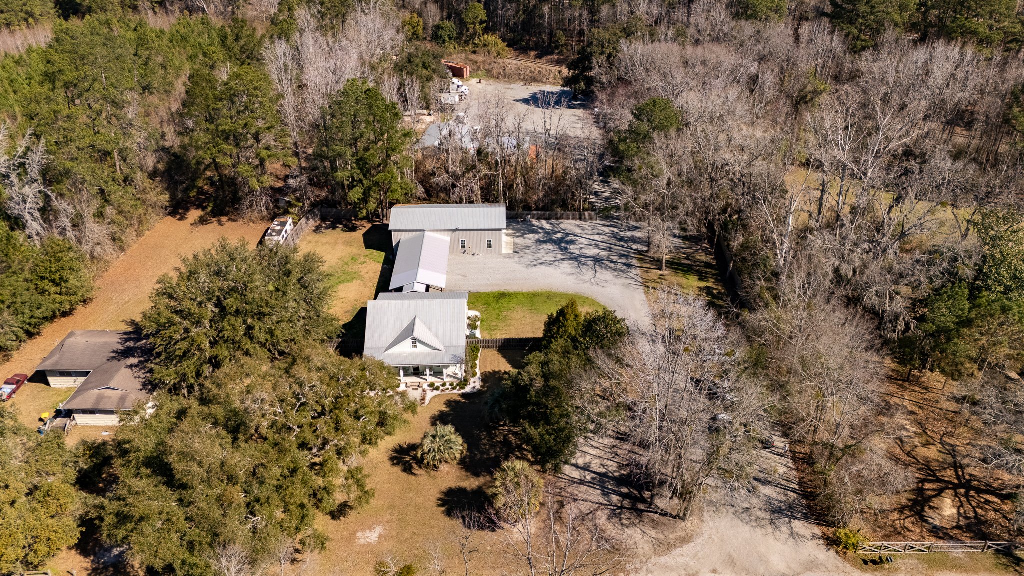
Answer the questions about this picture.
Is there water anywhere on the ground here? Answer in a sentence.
No, the picture contains no water.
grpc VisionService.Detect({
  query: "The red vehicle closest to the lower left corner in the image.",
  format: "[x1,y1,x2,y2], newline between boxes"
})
[0,371,31,403]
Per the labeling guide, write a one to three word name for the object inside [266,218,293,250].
vehicle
